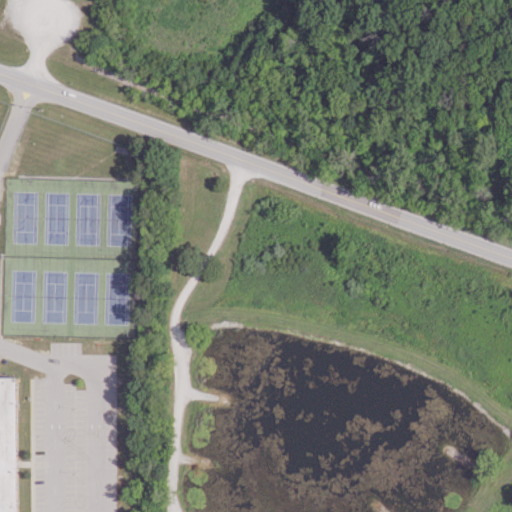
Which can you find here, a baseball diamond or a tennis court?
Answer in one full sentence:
This aerial view contains a tennis court.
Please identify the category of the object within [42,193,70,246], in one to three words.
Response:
tennis court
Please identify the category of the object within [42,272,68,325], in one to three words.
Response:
tennis court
